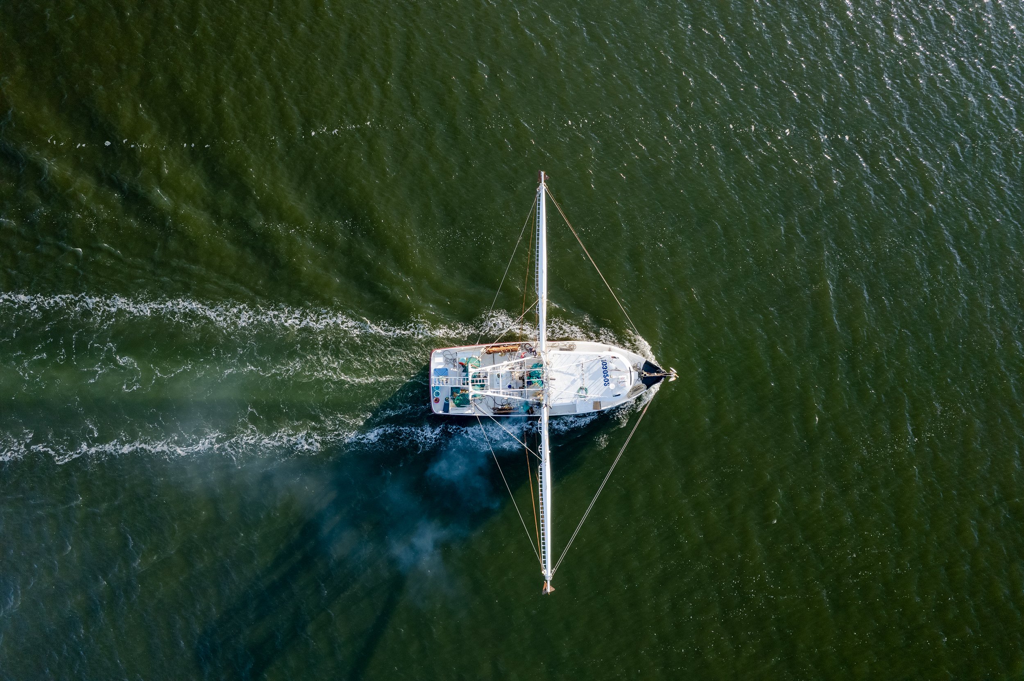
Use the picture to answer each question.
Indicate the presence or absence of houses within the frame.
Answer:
No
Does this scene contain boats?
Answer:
Yes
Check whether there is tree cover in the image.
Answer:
No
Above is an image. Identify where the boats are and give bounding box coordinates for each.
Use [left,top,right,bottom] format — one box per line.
[428,171,673,592]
